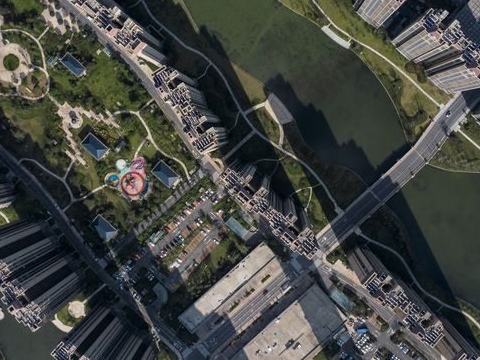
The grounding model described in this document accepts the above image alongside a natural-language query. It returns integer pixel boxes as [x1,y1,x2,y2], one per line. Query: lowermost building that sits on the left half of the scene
[51,298,163,360]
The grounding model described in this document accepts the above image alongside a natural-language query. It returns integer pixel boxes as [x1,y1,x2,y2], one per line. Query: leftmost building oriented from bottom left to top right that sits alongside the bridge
[177,240,278,333]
